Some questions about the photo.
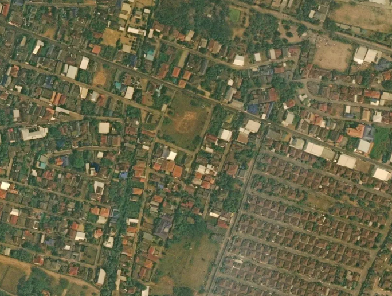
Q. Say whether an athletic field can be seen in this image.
Yes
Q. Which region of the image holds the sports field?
center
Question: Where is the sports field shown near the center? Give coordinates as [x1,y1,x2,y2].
[158,94,210,148]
